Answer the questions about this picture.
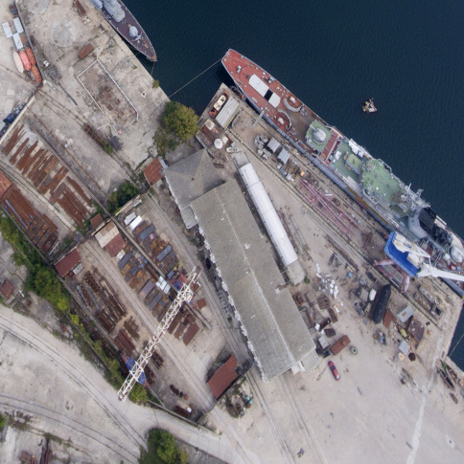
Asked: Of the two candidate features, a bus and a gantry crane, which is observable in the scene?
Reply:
gantry crane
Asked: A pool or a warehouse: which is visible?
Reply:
warehouse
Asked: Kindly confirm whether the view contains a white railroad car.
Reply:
No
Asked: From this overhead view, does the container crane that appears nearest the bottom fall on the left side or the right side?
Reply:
left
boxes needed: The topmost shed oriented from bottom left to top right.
[213,97,239,129]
